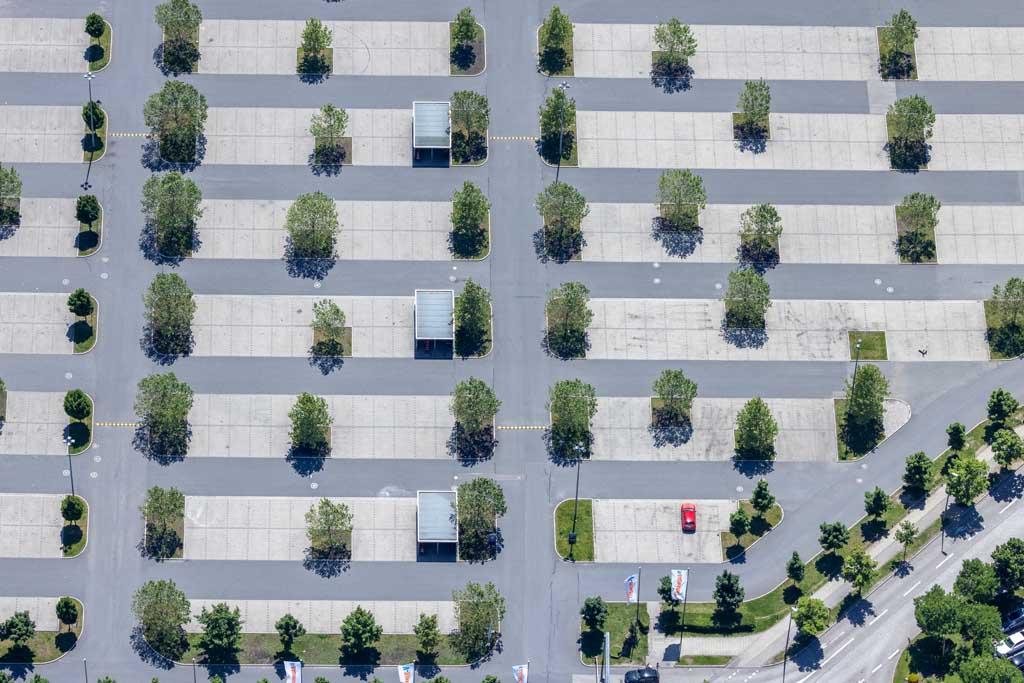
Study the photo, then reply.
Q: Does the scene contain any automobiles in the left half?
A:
No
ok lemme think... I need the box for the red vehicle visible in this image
[681,506,697,533]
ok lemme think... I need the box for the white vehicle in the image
[995,631,1024,659]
